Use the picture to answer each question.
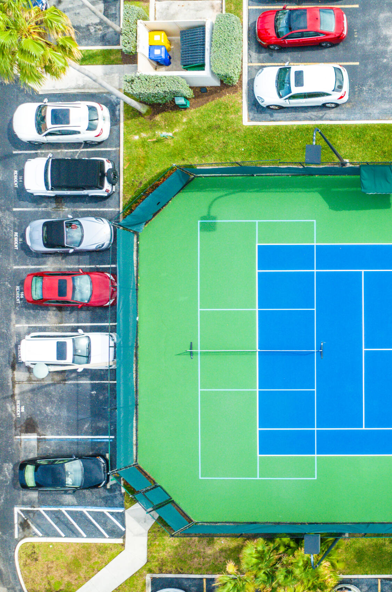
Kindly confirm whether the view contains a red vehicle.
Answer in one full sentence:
Yes, the image includes a red vehicle.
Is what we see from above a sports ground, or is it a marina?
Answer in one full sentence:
It's a sports ground.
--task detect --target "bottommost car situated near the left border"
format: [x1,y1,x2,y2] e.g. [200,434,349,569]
[15,451,113,495]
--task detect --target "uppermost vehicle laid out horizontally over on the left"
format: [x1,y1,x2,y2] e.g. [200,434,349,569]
[12,97,113,145]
